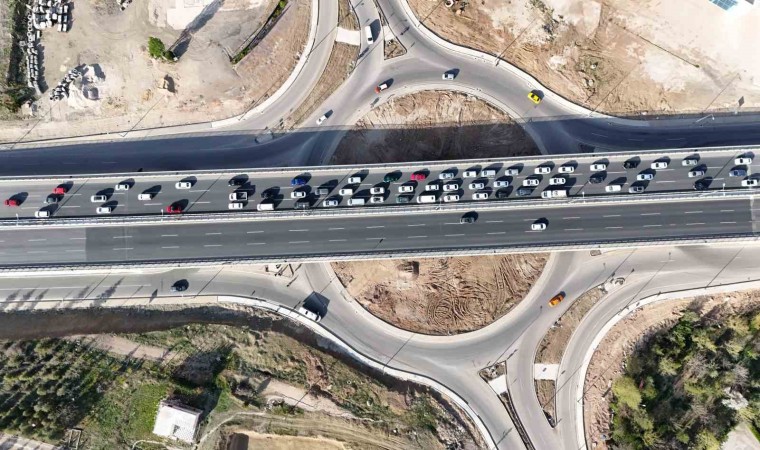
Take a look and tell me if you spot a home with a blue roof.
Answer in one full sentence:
No, there's no home with a blue roof here.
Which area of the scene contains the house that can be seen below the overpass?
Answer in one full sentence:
You can find the house that can be seen below the overpass in the bottom left area of the picture.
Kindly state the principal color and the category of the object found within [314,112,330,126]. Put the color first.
white car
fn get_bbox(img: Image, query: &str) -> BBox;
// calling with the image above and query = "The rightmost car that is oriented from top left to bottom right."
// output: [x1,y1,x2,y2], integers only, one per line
[526,91,543,105]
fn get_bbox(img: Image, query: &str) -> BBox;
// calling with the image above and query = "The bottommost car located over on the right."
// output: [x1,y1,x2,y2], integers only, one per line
[548,293,565,306]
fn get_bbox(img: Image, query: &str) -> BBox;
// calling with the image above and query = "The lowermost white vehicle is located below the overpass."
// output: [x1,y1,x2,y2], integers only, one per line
[297,306,321,323]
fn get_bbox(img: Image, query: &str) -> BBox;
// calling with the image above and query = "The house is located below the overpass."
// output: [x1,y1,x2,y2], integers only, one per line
[152,394,204,443]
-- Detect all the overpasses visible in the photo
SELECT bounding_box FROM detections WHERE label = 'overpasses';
[0,144,760,274]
